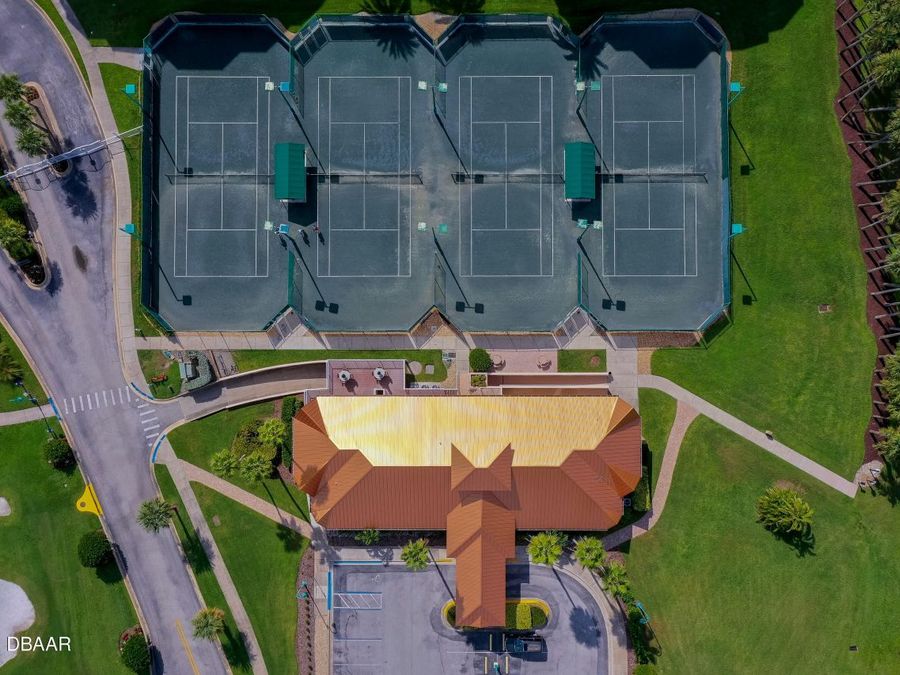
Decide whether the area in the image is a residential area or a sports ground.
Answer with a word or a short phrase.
sports ground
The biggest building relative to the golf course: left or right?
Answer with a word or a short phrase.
right of it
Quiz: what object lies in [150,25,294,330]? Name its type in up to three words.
tennis court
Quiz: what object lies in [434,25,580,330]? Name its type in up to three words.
tennis court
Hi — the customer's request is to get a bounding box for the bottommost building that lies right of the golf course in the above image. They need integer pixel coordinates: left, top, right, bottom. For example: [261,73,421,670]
[292,396,642,628]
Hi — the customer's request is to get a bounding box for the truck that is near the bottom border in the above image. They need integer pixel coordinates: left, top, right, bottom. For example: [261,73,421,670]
[503,636,549,659]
